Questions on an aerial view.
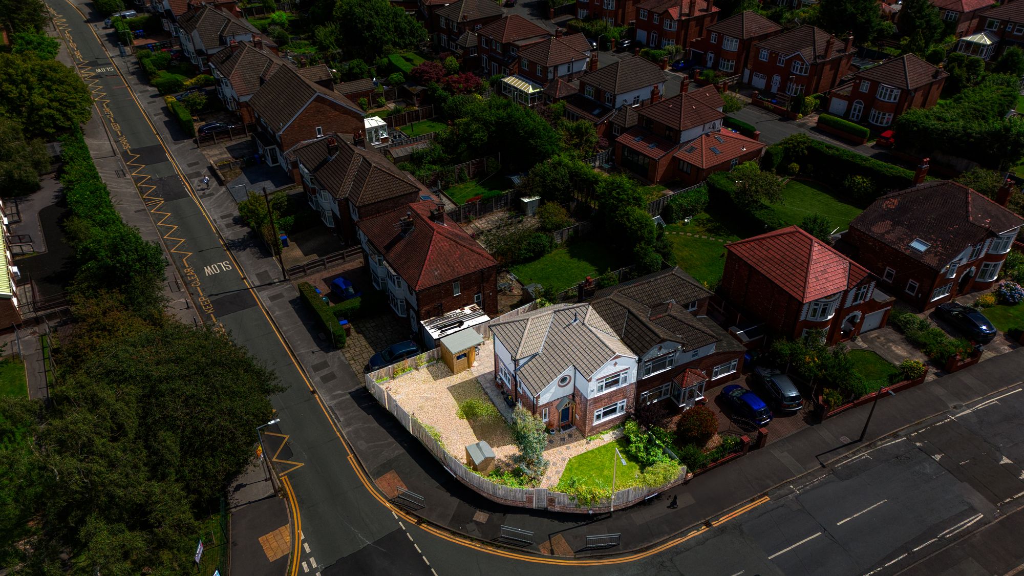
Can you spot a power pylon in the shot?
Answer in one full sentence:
No, there isn't any power pylon down there.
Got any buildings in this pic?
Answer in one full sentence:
Yes, the image includes a building.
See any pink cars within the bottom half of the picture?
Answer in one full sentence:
No, there is no pink car within the bottom half of the picture.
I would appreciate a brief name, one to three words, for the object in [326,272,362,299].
car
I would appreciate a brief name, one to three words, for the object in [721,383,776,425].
car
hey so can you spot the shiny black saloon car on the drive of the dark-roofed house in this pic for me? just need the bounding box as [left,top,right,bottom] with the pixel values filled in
[939,306,998,343]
